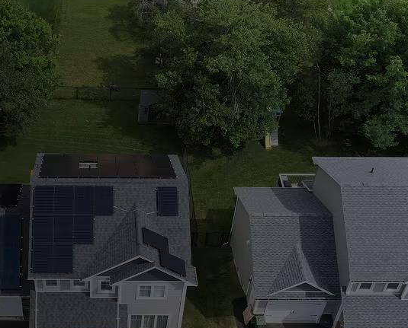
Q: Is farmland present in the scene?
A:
No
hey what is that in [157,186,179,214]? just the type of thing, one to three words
solar panel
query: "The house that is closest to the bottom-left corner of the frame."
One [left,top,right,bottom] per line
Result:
[0,151,198,328]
